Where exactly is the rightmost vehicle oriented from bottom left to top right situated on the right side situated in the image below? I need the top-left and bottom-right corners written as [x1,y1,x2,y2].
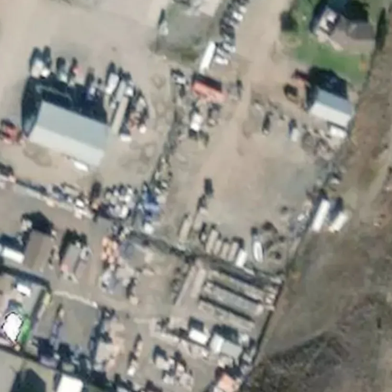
[327,209,349,234]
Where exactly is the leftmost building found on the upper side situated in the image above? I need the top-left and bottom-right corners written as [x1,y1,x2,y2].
[26,101,114,168]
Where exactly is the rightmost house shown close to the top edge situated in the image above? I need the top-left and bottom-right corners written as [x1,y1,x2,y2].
[324,7,376,52]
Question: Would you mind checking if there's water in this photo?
No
